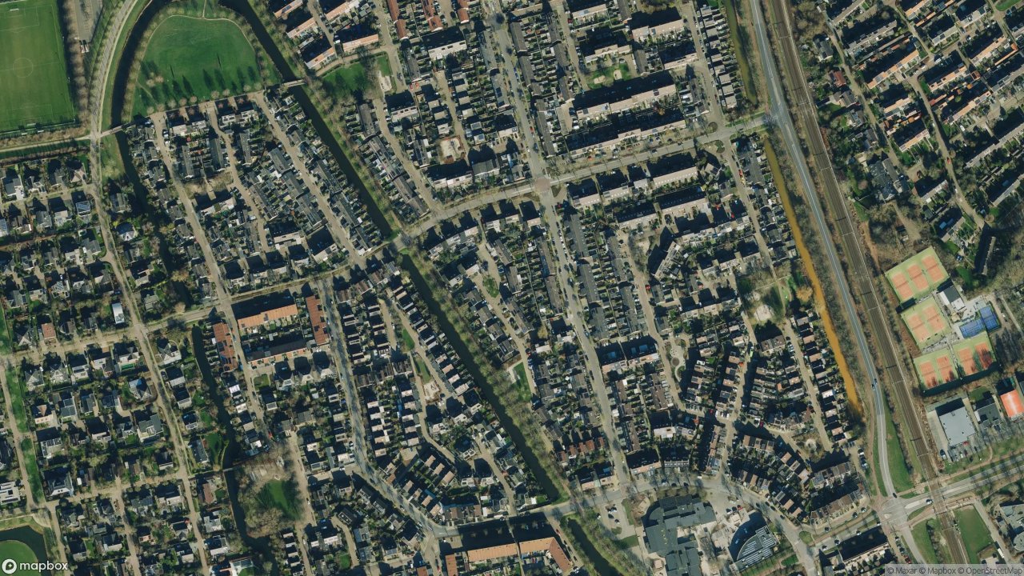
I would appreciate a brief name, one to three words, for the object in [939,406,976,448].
building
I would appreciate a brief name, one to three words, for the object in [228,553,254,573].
house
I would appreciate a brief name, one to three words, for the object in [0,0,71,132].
soccer field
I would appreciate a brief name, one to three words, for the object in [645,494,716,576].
building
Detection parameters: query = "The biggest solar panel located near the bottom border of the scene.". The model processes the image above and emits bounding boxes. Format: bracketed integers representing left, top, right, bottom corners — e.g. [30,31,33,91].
[743,529,775,567]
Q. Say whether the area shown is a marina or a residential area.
residential area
